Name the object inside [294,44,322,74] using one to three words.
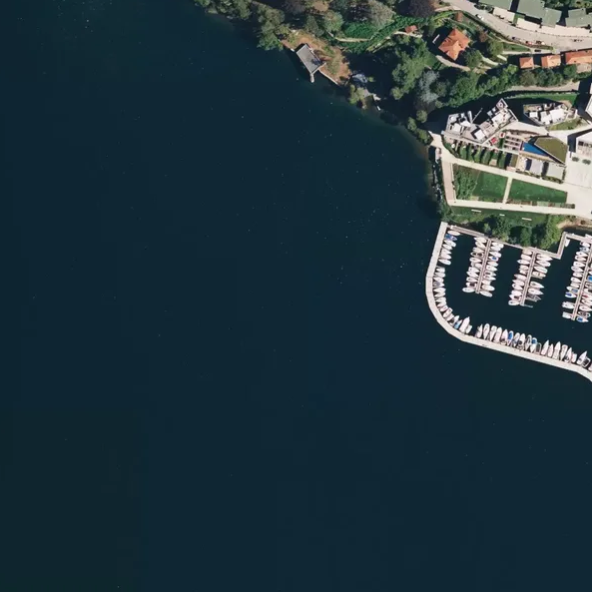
building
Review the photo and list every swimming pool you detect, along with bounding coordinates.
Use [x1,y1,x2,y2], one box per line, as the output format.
[524,143,546,156]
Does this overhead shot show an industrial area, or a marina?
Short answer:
marina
